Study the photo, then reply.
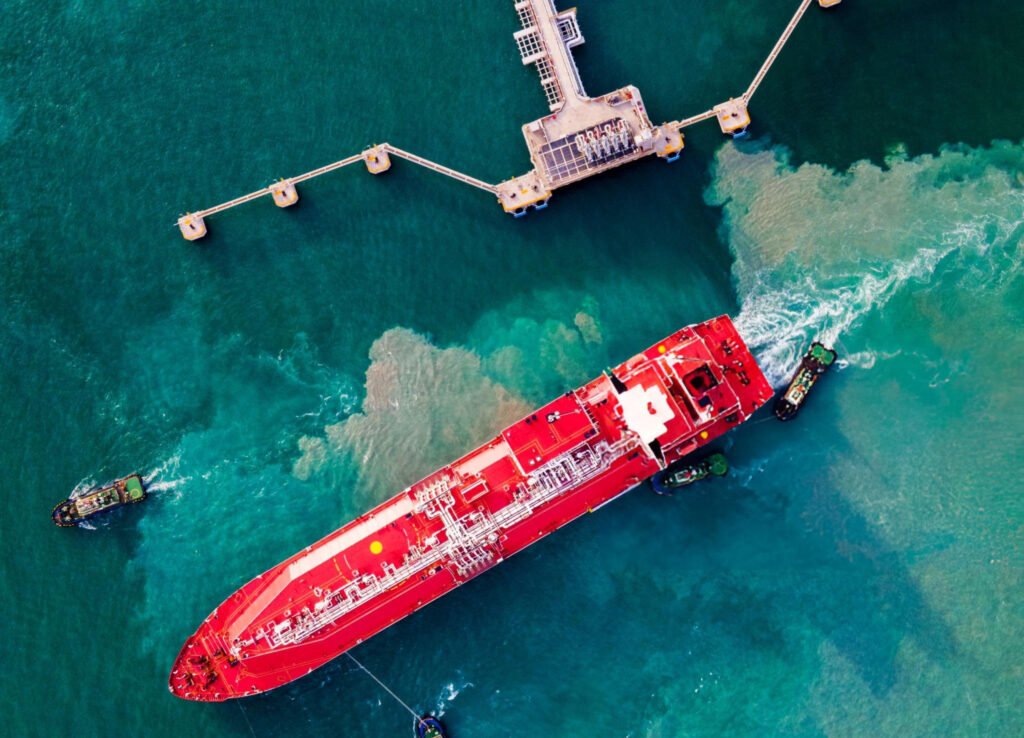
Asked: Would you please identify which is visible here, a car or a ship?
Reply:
ship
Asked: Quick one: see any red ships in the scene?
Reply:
Yes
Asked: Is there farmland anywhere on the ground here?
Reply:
No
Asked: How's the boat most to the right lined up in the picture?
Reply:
on a diagonal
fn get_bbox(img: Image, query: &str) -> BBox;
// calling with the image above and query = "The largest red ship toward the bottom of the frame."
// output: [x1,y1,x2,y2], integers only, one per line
[167,315,775,704]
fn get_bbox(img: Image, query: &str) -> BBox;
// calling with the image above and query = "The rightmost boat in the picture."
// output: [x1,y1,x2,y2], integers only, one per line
[777,339,840,421]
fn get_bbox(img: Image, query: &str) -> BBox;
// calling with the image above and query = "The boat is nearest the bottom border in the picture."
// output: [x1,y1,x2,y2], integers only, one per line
[418,715,450,738]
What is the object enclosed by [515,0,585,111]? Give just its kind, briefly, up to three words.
pier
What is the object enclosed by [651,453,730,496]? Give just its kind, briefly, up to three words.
boat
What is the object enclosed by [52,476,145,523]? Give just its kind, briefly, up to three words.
boat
